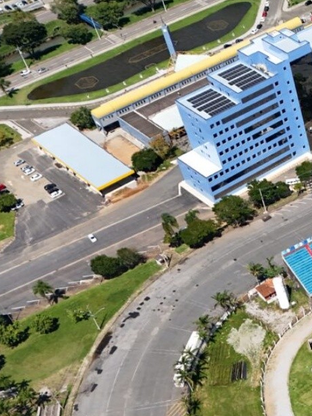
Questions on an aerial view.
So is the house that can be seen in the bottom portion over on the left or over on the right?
right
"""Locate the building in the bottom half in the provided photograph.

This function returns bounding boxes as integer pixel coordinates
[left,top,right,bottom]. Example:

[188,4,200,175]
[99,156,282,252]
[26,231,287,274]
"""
[254,278,276,307]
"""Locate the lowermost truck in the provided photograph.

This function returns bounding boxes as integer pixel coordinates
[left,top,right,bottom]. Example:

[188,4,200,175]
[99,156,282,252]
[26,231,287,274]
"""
[182,337,204,361]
